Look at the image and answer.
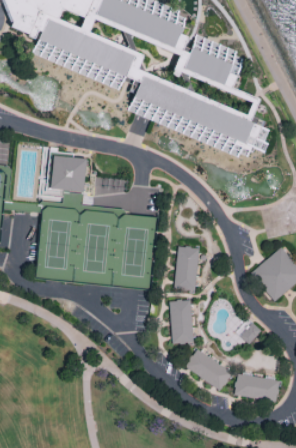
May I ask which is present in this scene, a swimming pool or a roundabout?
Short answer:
swimming pool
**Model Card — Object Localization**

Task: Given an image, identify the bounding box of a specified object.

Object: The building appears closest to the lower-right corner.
[234,372,280,402]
